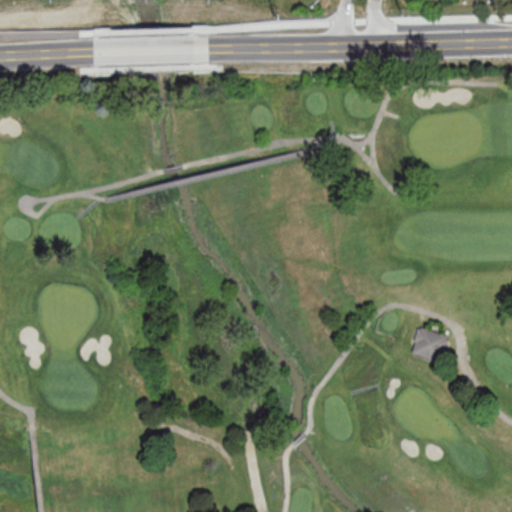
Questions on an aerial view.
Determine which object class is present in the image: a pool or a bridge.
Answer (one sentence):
I can see a bridge in this picture.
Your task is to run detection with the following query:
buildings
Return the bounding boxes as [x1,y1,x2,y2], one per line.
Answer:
[411,326,451,360]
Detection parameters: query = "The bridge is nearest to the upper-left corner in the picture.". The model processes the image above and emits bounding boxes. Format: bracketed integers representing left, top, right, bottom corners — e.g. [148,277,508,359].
[80,26,224,77]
